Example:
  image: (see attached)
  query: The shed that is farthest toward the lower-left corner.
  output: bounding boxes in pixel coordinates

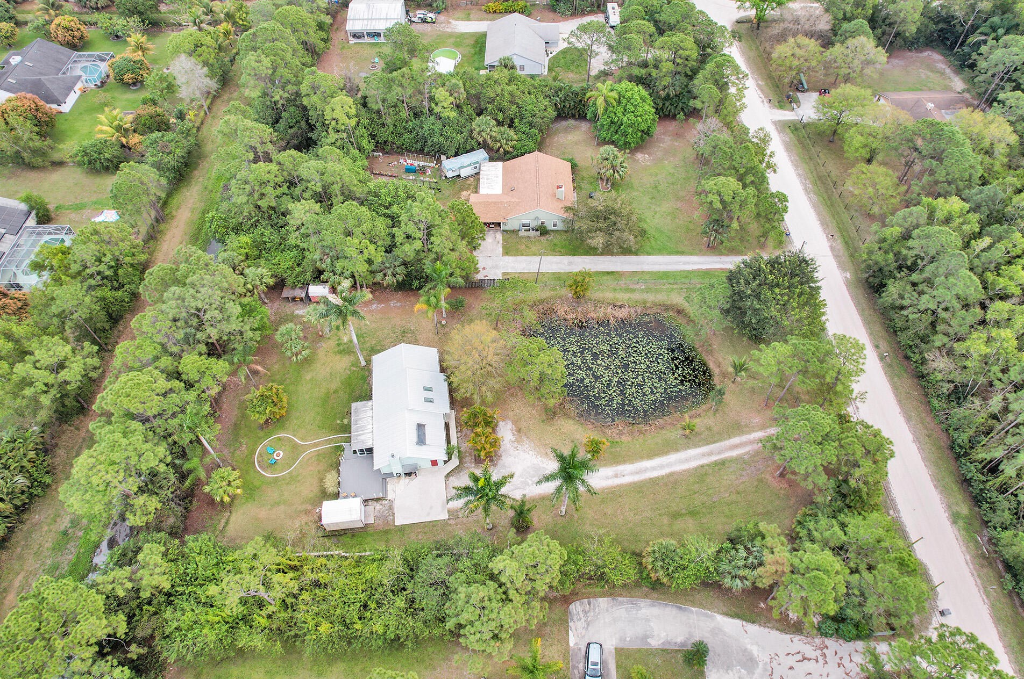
[323,497,375,530]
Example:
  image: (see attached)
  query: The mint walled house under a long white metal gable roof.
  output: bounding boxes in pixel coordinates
[351,342,450,483]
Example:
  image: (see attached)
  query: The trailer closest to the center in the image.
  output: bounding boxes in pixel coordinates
[443,150,488,179]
